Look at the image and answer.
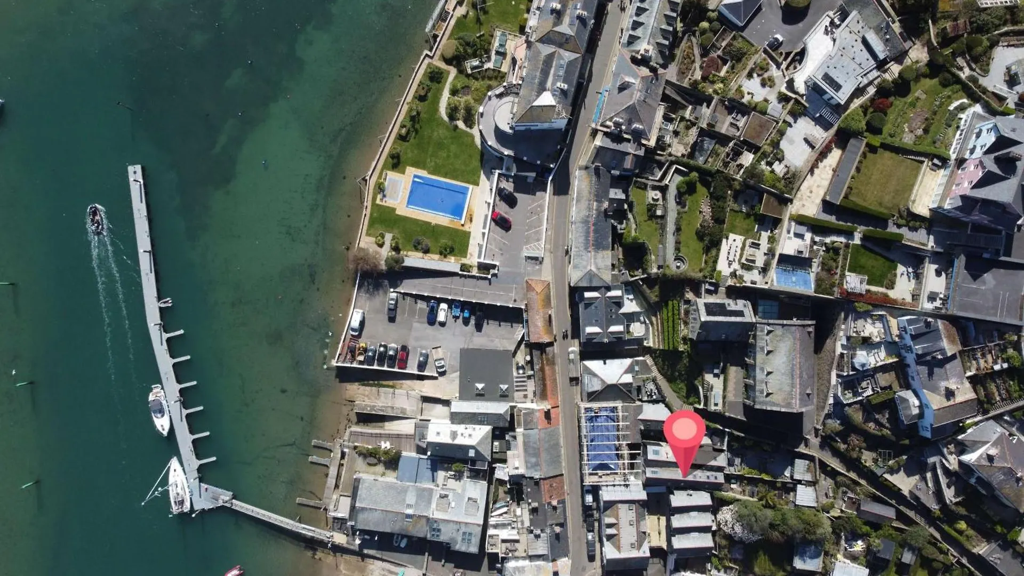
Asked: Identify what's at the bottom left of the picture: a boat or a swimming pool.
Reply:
boat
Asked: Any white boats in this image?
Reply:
Yes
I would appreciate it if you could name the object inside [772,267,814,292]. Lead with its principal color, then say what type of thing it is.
blue swimming pool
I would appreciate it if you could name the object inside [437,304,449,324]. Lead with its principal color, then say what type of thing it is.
white vehicle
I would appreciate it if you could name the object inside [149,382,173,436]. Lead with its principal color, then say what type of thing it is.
white boat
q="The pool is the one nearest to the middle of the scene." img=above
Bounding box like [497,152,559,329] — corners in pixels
[405,173,473,224]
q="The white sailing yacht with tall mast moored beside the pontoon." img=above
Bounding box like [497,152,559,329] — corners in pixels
[144,457,192,514]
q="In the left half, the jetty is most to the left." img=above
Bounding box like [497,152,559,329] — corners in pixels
[128,165,235,511]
